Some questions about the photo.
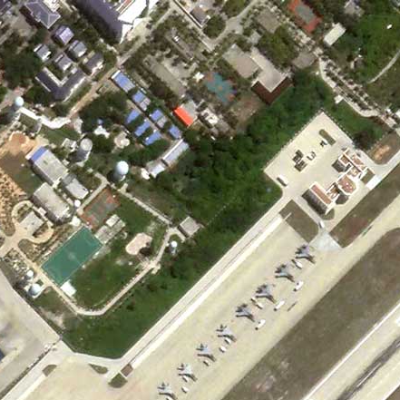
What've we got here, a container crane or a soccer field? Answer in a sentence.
I can see a soccer field in this picture.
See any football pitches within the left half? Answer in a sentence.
Yes, within the left half there is a football pitch.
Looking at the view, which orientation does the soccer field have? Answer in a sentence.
In this picture, the soccer field lies at an angle.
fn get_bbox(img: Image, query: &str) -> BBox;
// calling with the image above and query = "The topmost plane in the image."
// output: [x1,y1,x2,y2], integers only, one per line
[297,246,314,262]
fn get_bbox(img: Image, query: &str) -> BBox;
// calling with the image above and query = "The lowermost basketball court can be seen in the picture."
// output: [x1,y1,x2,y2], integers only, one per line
[79,187,120,229]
